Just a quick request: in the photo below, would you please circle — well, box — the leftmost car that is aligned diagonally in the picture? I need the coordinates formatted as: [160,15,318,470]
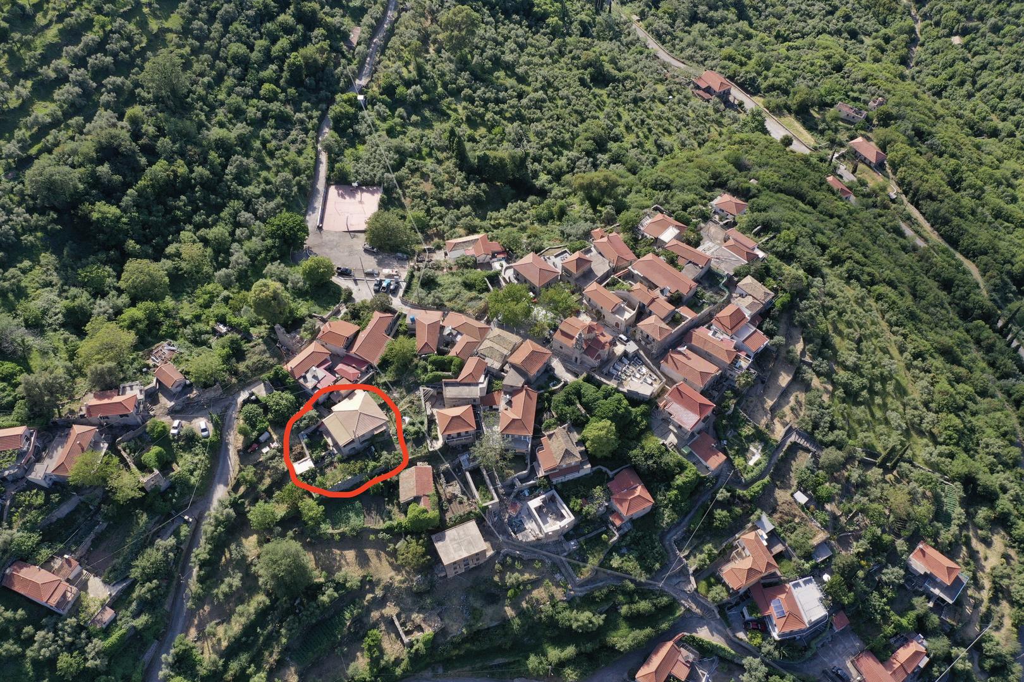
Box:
[169,419,182,434]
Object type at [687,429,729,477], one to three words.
shed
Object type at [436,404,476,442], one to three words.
house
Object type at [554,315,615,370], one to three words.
building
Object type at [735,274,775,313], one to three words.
house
